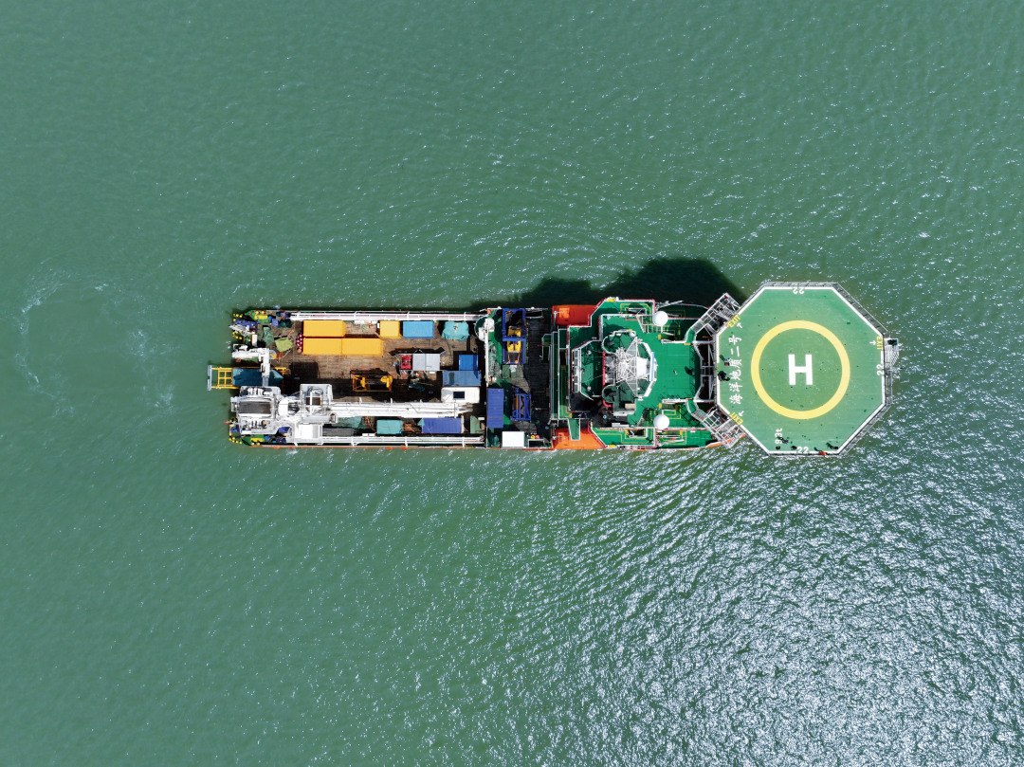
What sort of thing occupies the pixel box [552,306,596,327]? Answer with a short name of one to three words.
boat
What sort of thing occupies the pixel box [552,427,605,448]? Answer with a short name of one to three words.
boat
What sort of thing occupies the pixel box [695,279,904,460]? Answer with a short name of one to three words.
helipad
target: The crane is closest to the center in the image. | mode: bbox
[473,319,496,387]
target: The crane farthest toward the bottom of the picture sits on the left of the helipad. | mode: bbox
[231,379,473,444]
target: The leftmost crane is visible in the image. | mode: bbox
[232,345,276,386]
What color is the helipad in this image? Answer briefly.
green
